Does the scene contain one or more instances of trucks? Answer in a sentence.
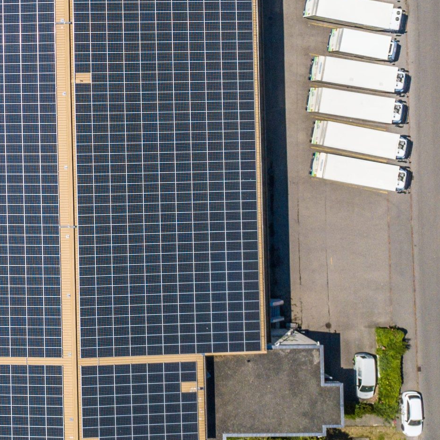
Yes, you can see a truck in this photo.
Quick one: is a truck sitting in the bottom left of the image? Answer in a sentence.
No, there is no truck in the bottom left of the image.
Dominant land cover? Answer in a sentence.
For the most part, this view shows buildings.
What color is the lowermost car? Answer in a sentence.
From above, the lowermost car appears white.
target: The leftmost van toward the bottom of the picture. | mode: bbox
[350,351,378,395]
